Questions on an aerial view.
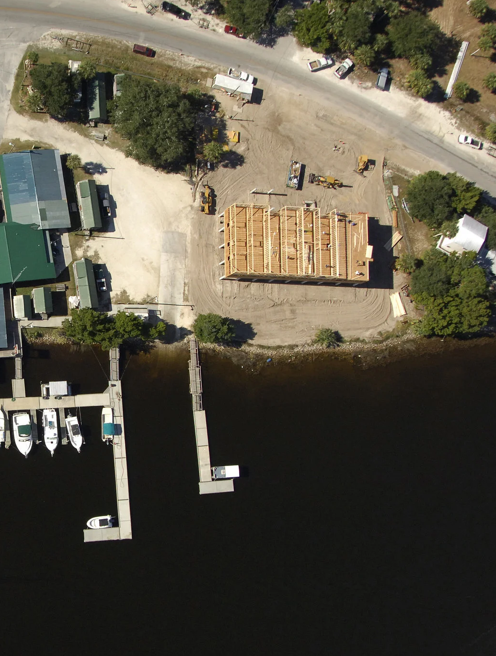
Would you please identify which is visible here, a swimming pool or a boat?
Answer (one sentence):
Looking from above, you can make out a boat.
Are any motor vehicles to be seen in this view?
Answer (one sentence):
Yes, looking at the shot, I can spot a motor vehicle.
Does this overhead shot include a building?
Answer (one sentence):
Yes, the photo shows a building.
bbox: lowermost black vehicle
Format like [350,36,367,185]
[96,267,109,294]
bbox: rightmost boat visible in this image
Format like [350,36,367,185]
[209,465,242,478]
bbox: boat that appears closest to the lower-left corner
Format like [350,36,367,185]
[87,516,116,529]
